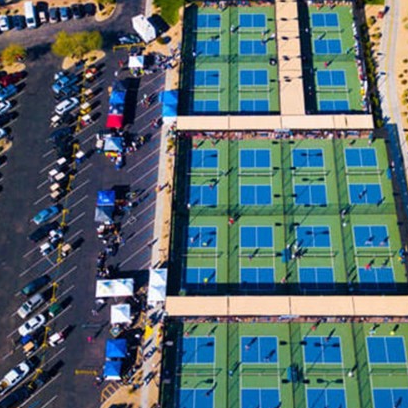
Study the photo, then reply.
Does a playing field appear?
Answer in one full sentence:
Yes, this view includes a playing field.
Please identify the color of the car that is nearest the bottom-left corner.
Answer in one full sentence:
The color of the car that is nearest the bottom-left corner is black.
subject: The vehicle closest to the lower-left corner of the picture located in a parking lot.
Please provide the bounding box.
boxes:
[0,386,25,408]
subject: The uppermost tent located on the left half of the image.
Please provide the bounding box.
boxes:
[128,16,160,52]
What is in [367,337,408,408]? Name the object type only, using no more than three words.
sports court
